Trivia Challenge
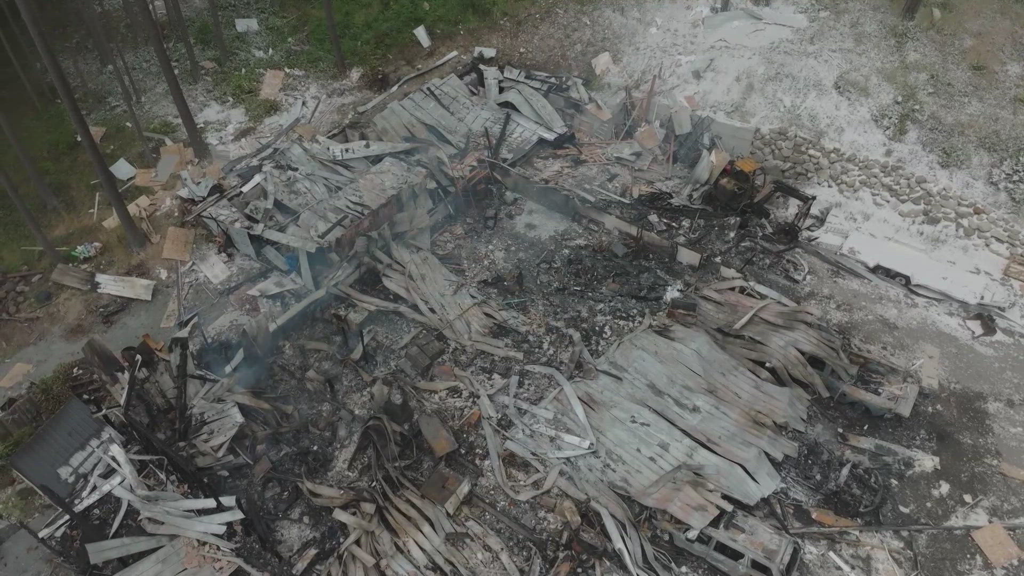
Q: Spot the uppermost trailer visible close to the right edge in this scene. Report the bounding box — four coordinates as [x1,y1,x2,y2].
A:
[801,227,1011,308]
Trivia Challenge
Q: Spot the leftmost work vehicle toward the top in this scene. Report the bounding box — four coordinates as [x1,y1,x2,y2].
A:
[713,157,817,241]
